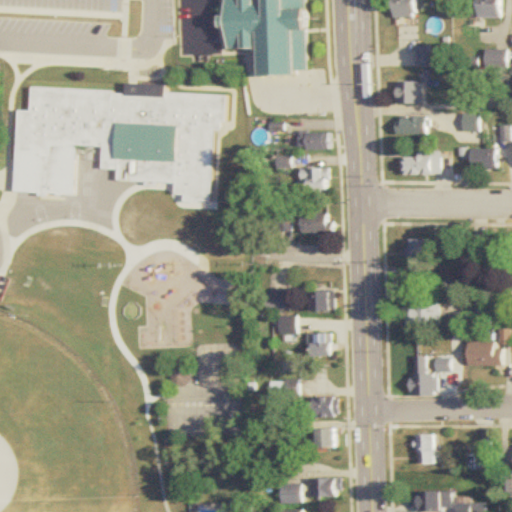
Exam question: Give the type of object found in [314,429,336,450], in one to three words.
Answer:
house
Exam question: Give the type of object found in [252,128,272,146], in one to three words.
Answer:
swimming pool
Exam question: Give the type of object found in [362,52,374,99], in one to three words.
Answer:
vehicle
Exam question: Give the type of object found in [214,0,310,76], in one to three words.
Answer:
building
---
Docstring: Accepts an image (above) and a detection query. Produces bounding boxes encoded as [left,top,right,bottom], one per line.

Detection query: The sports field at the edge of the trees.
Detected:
[0,312,134,512]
